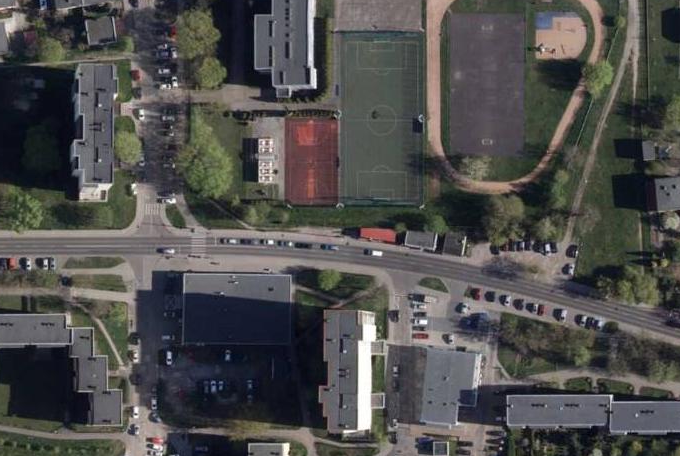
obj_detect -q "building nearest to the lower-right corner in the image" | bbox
[610,401,680,435]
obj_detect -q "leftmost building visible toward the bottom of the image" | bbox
[0,314,128,425]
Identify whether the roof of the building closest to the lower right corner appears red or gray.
gray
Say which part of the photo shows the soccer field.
top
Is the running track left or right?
right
